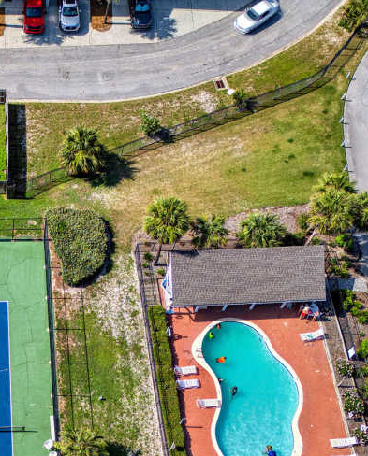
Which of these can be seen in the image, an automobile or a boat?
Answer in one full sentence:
I can see an automobile in this picture.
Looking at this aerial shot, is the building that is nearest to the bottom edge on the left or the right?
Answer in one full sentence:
The building that is nearest to the bottom edge is on the right side of the image.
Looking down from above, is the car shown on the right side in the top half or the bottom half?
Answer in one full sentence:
Seen from above, the car shown on the right side lies in the top half of the view.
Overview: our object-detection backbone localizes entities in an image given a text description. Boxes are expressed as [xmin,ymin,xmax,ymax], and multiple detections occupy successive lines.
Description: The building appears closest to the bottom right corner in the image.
[163,242,327,321]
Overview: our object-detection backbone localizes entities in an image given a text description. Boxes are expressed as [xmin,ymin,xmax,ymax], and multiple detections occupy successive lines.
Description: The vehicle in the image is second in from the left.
[58,0,81,31]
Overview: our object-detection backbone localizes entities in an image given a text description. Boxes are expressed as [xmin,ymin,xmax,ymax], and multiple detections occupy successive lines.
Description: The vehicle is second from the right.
[127,0,151,28]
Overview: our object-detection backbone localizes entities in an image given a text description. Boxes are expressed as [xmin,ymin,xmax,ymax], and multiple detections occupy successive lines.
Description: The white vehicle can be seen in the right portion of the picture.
[232,0,275,32]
